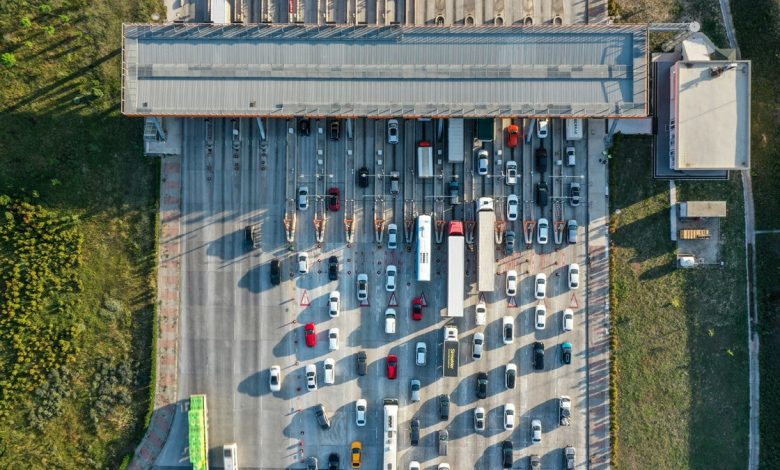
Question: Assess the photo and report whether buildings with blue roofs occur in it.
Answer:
No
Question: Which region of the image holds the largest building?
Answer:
top right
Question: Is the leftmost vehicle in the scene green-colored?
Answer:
Yes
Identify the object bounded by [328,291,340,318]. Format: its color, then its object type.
white vehicle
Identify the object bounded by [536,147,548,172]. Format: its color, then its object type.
black vehicle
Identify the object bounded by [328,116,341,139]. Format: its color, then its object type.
black vehicle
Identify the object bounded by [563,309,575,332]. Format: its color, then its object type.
white vehicle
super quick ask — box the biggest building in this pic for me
[654,39,752,180]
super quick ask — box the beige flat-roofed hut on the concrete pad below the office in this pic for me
[676,200,727,217]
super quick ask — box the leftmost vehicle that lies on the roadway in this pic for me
[189,393,209,470]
